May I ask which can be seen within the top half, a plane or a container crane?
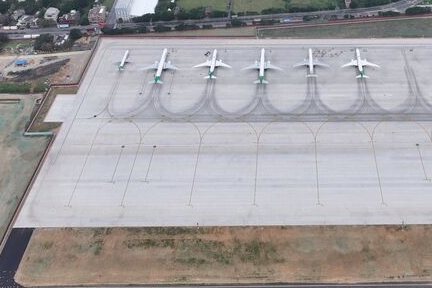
plane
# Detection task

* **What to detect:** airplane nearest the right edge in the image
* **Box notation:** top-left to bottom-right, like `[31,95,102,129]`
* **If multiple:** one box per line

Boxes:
[341,49,380,78]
